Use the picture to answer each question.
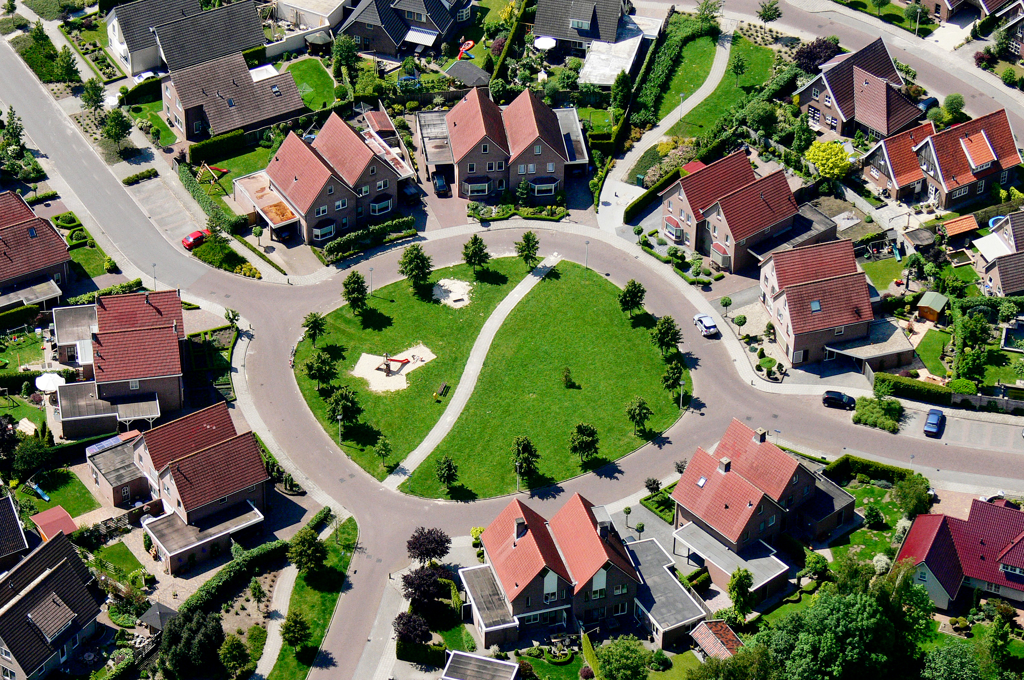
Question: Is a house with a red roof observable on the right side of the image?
Yes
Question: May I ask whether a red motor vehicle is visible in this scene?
Yes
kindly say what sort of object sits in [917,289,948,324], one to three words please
shed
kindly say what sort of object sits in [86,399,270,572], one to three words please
house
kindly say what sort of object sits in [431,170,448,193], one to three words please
car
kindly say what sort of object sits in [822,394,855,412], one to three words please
car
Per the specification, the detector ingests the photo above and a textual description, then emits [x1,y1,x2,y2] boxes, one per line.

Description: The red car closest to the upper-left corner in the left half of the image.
[181,230,213,248]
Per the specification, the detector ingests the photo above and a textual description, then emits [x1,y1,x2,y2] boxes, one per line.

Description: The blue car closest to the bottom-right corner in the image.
[924,409,943,436]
